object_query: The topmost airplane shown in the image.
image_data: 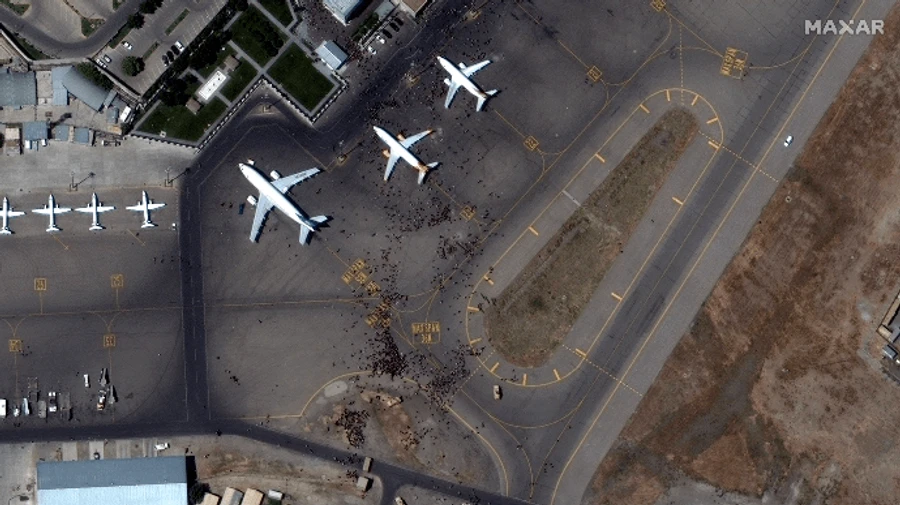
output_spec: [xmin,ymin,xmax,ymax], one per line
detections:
[435,54,501,112]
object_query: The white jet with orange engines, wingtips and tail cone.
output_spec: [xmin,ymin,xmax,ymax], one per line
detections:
[374,126,439,183]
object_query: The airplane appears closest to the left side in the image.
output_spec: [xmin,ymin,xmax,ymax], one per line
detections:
[0,198,25,233]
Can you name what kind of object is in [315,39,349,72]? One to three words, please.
shed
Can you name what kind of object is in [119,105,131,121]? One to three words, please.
vehicle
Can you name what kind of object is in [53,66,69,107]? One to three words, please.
shed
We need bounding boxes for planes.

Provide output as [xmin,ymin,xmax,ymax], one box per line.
[435,54,501,112]
[374,126,439,183]
[31,195,71,228]
[124,191,164,226]
[239,162,330,245]
[0,198,25,233]
[75,193,114,228]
